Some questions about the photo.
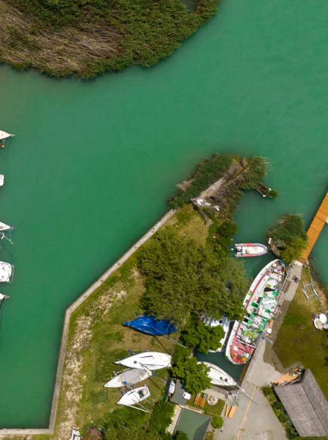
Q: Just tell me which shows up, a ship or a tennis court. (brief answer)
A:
ship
